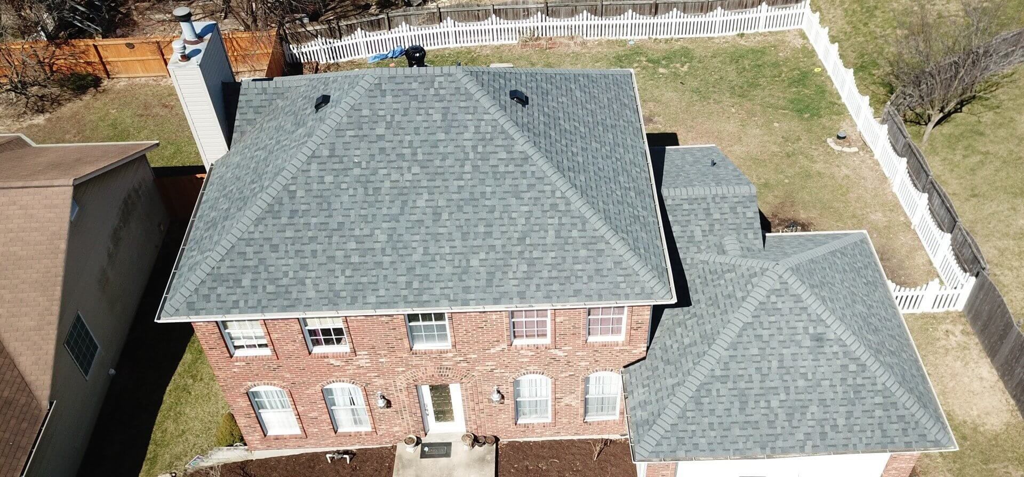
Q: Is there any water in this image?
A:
No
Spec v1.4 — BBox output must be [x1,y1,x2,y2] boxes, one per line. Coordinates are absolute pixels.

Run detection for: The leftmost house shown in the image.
[0,125,173,477]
